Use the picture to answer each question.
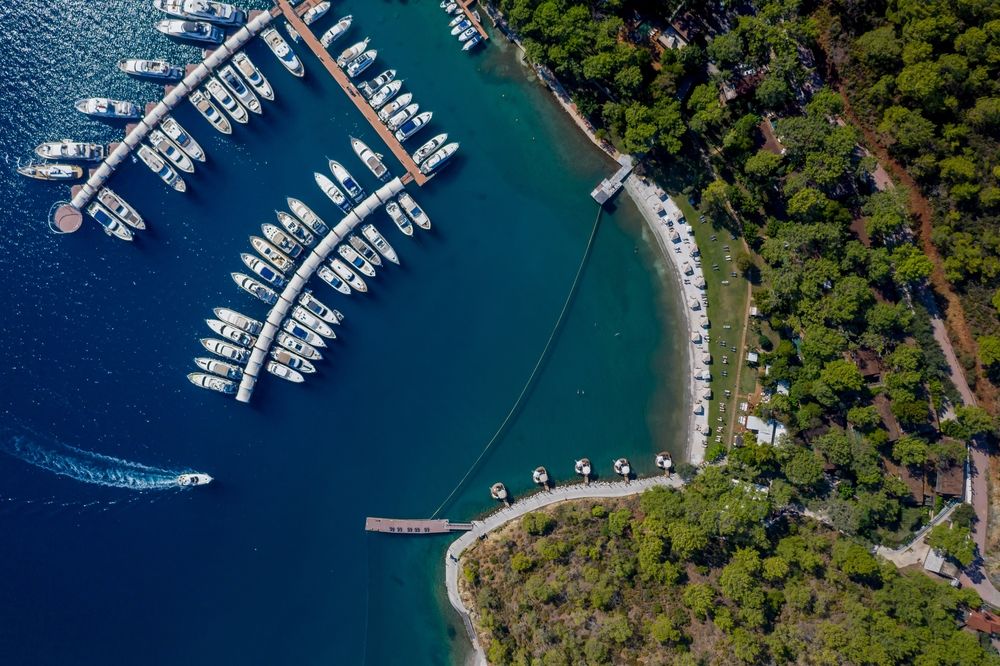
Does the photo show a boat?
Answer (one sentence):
Yes, the picture does show a boat.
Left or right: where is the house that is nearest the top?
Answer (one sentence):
The house that is nearest the top appears in the right half of the scene.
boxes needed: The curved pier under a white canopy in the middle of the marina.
[237,177,406,401]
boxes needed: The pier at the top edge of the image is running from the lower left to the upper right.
[48,10,275,234]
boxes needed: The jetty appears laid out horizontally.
[363,516,473,533]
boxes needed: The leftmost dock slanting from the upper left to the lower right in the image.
[268,0,437,185]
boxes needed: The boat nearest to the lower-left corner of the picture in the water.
[177,472,214,485]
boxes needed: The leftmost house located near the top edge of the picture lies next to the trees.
[656,26,687,50]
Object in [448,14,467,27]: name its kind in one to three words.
boat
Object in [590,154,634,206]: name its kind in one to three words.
pier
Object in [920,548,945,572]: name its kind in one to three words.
house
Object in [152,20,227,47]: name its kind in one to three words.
boat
